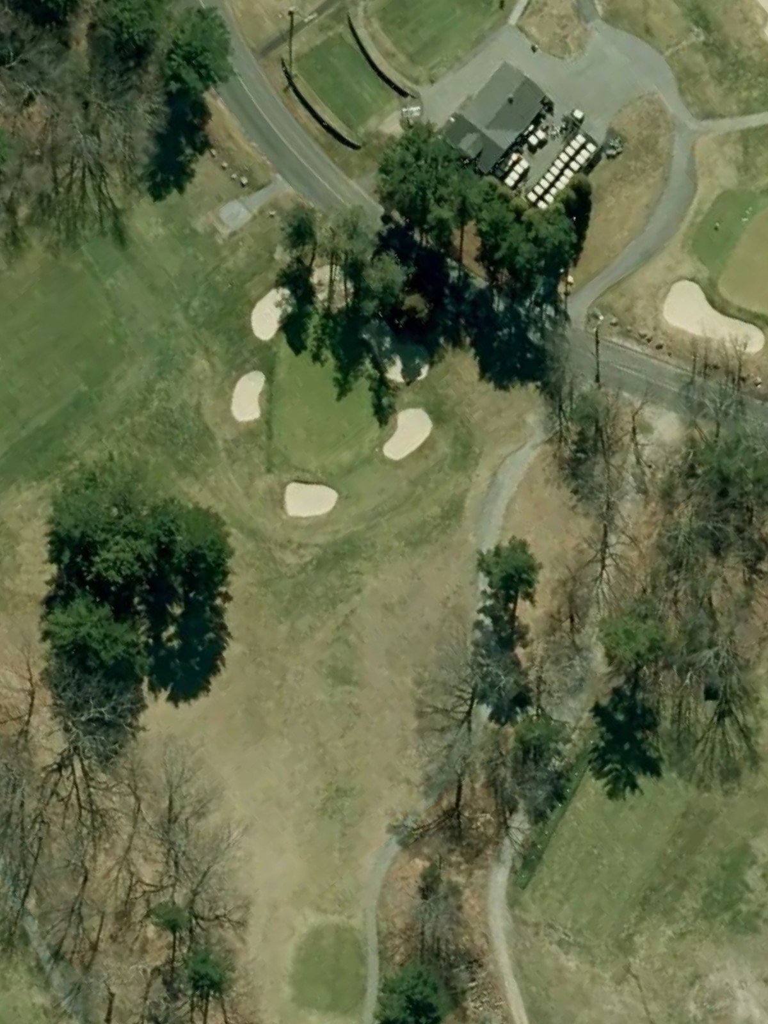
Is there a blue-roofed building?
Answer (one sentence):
No, I find no blue-roofed building anywhere in the image.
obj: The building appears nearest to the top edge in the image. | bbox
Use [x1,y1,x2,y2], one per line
[440,62,547,166]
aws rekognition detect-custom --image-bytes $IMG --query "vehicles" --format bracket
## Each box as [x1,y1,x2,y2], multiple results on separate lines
[531,185,545,200]
[543,172,557,186]
[553,180,565,190]
[525,191,538,204]
[575,134,588,148]
[542,193,555,207]
[548,165,561,180]
[584,143,597,157]
[526,135,540,149]
[552,159,566,173]
[519,159,531,173]
[579,148,592,163]
[558,175,570,189]
[574,154,587,169]
[562,168,574,182]
[572,109,585,123]
[547,186,558,196]
[569,140,582,154]
[508,152,522,165]
[563,146,577,161]
[568,161,581,175]
[537,178,551,193]
[558,152,571,167]
[524,123,537,135]
[533,130,547,144]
